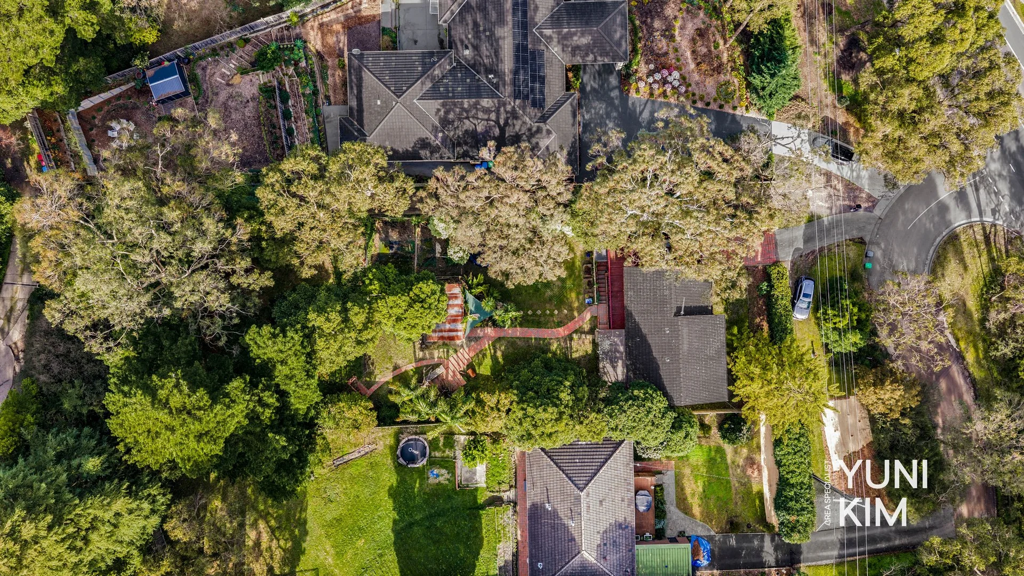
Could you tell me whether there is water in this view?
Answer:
No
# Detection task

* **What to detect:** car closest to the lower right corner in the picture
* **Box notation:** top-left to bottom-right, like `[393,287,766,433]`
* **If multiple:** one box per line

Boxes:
[789,276,814,320]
